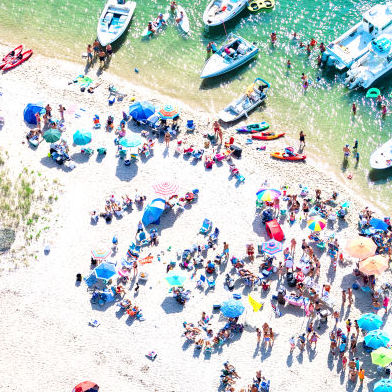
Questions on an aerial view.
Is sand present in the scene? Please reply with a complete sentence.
Yes, sand shows up in the scene.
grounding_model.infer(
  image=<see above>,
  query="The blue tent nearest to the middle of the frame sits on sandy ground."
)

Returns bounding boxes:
[140,205,173,233]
